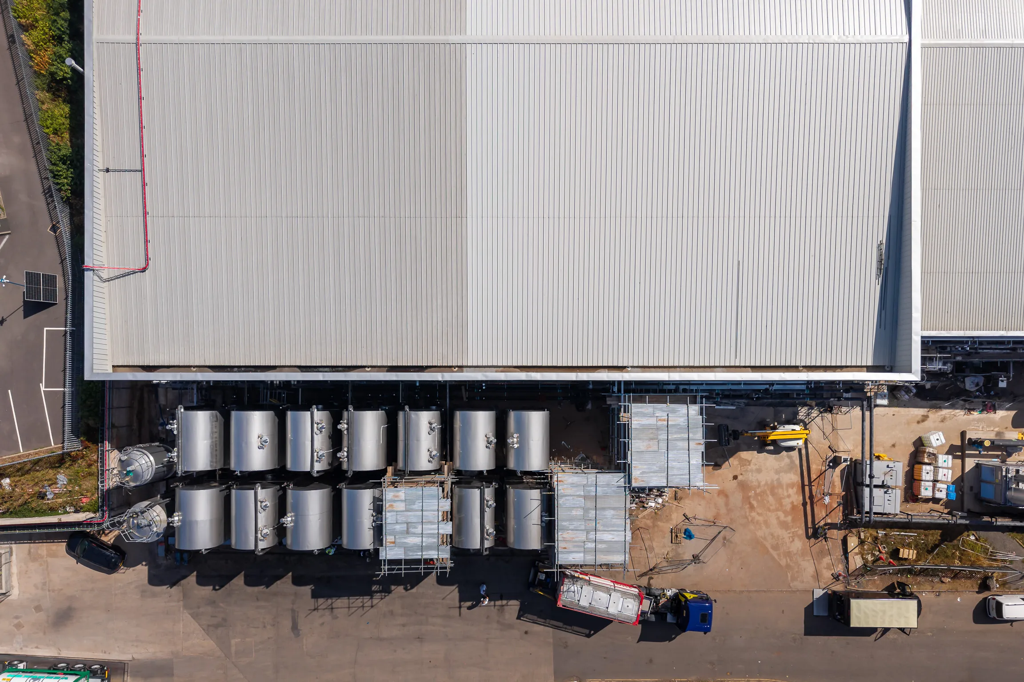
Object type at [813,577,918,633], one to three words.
truck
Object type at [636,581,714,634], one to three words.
vehicle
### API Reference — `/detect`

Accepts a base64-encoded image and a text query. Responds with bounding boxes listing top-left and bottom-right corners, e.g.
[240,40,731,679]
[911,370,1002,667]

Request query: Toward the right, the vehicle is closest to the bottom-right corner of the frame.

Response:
[982,592,1024,619]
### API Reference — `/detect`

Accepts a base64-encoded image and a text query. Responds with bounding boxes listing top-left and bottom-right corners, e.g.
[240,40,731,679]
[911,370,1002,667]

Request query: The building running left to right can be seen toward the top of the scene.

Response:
[84,0,920,380]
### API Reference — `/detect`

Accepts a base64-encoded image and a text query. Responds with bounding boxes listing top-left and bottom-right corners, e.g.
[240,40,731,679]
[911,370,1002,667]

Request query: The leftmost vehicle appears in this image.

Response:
[1,662,26,674]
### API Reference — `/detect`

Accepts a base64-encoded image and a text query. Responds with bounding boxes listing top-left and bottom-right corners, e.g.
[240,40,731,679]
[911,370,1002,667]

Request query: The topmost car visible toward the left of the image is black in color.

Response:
[69,529,130,575]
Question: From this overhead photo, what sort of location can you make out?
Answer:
industrial area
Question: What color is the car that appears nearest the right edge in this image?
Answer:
white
